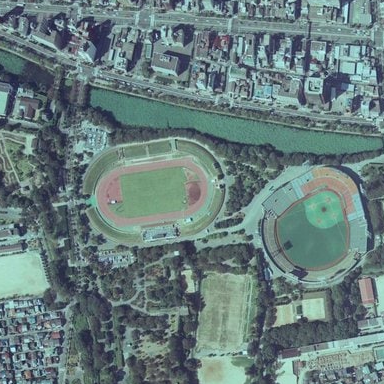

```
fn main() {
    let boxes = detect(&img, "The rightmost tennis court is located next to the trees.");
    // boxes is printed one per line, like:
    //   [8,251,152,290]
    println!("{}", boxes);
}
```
[302,291,327,322]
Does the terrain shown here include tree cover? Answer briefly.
Yes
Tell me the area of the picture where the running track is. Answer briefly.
center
